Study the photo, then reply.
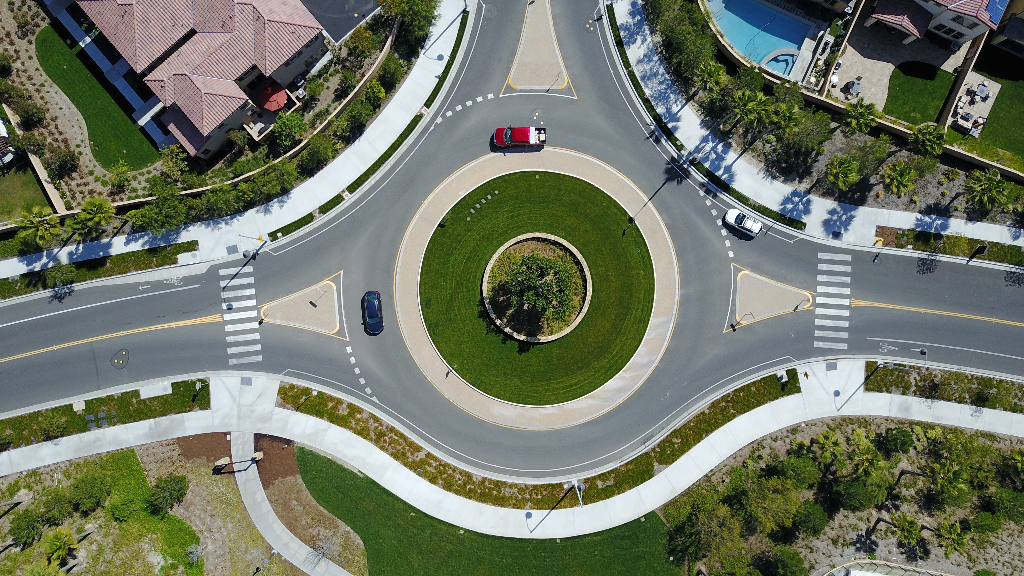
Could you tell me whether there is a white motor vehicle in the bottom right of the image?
No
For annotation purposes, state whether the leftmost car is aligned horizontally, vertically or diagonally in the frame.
vertically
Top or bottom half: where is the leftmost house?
top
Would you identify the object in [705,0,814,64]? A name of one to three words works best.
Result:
swimming pool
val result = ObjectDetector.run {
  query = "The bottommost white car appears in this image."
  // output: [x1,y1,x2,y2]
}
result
[722,208,767,238]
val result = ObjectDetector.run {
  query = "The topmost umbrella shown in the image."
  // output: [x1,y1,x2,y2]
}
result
[261,87,289,116]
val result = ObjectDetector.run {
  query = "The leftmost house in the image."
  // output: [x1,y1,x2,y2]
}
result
[75,0,332,157]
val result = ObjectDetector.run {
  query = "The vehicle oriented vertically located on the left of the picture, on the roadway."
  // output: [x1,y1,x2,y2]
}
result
[362,290,382,334]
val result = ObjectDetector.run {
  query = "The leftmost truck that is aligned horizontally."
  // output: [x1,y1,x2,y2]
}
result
[491,122,549,147]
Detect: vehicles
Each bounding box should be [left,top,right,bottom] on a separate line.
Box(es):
[362,290,382,334]
[491,122,549,147]
[722,208,767,238]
